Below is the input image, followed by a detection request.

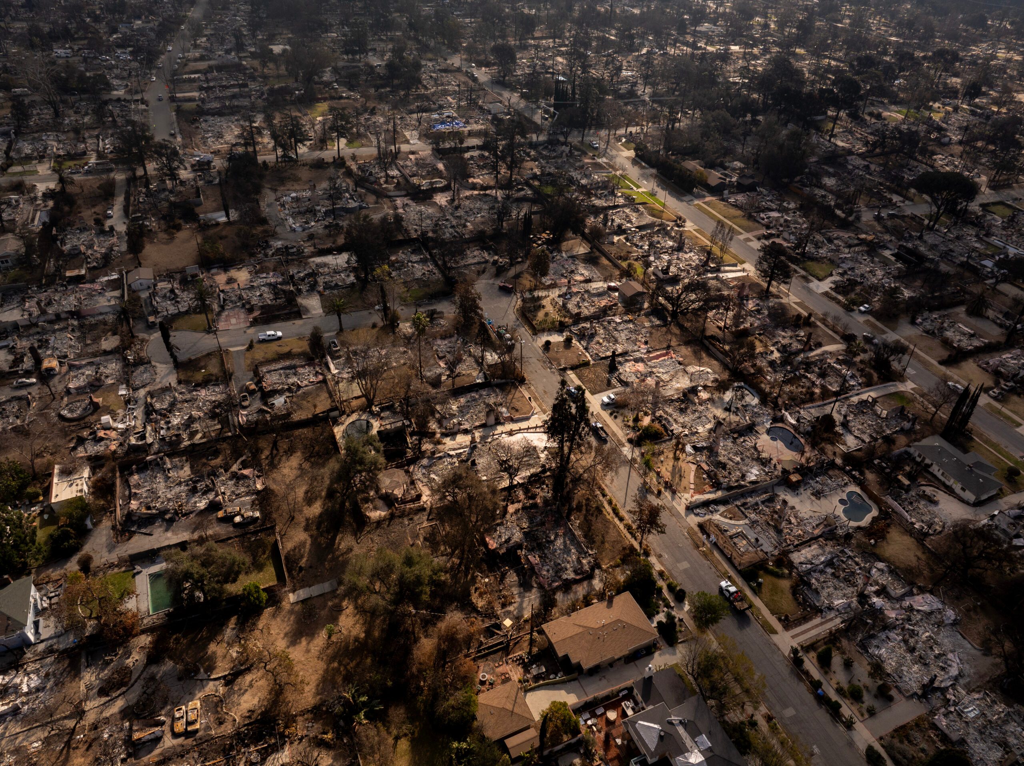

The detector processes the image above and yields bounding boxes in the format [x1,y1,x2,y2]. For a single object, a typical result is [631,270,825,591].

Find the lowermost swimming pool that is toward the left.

[147,560,173,616]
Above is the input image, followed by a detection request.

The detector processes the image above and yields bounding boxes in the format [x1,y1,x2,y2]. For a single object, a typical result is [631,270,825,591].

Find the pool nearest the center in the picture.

[345,419,373,442]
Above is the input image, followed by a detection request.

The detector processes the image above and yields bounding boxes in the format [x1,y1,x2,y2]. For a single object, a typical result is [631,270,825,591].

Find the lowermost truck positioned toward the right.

[714,576,760,614]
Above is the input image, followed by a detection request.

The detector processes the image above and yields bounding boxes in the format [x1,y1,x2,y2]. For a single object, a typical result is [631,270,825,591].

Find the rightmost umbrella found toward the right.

[782,452,803,466]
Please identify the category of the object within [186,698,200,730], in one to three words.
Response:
car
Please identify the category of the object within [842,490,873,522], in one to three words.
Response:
swimming pool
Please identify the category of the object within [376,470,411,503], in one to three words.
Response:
gazebo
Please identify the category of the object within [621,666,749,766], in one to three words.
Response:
house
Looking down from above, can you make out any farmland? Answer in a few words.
No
